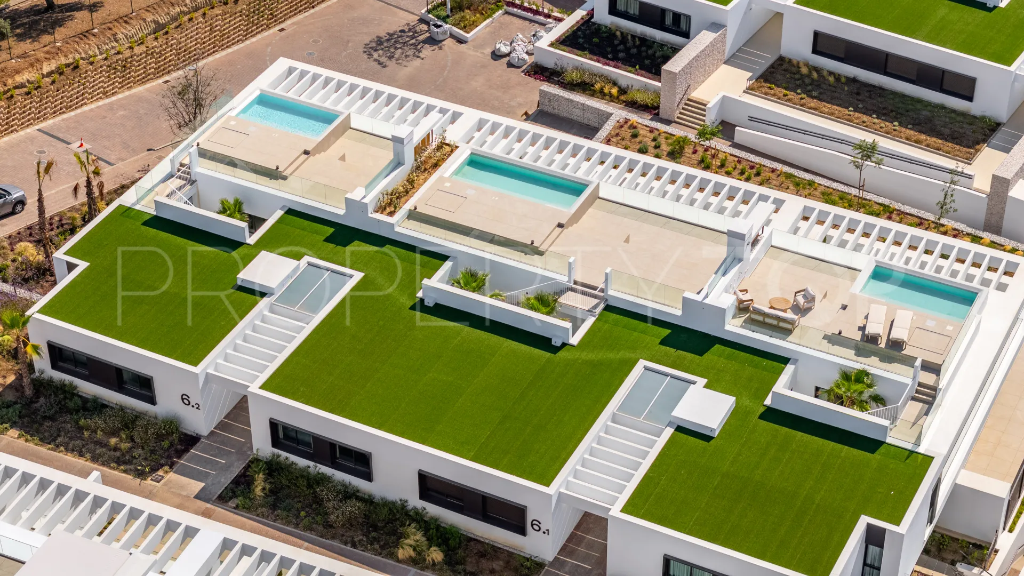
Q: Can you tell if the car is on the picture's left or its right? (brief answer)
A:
left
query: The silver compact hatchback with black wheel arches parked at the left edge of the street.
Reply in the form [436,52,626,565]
[0,175,28,216]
